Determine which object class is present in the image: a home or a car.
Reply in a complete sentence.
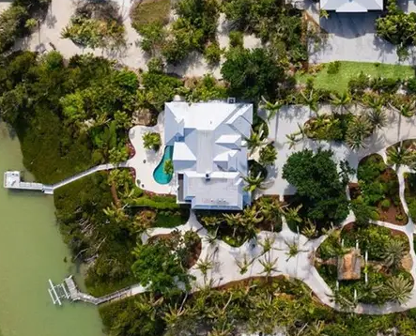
The one in the frame is a home.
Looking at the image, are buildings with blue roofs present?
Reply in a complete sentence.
No, the frame has no building with a blue roof in it.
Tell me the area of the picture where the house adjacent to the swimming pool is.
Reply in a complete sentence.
The house adjacent to the swimming pool sits in the center section of the image.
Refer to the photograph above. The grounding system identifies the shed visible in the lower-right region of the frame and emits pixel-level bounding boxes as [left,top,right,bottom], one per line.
[338,246,361,288]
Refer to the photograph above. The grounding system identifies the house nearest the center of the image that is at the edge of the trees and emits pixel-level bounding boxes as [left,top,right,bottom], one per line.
[165,93,253,210]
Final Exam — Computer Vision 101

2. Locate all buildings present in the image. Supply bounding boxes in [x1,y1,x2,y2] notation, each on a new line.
[338,246,361,288]
[165,93,253,210]
[319,0,384,12]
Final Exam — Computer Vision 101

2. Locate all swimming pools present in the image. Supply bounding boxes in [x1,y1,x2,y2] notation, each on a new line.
[152,145,175,186]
